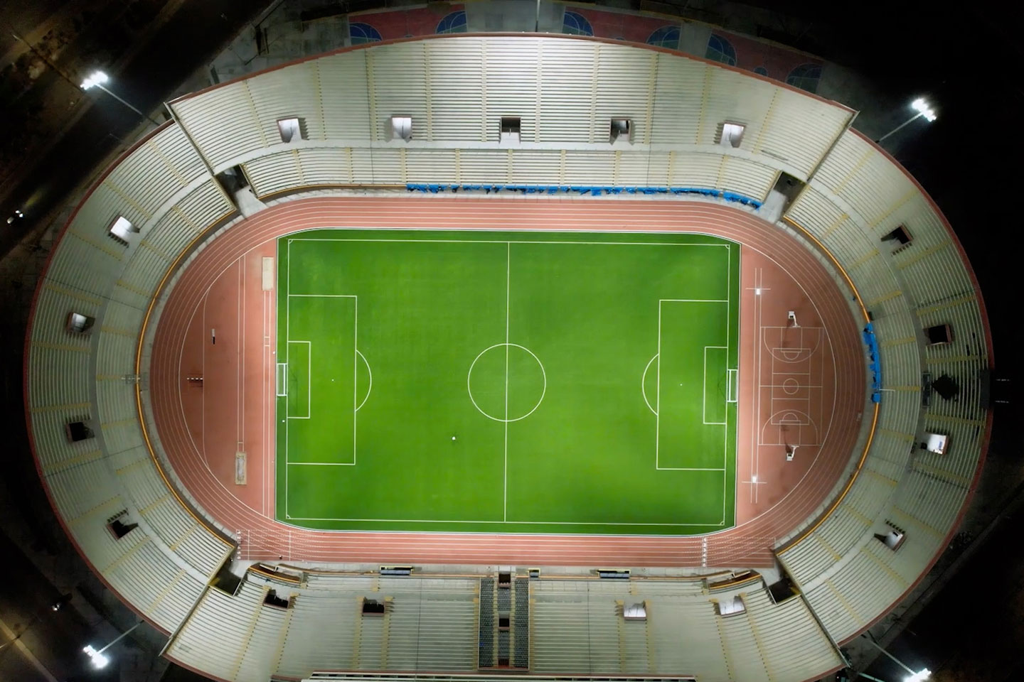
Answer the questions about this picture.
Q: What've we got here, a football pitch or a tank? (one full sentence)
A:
The one in the frame is a football pitch.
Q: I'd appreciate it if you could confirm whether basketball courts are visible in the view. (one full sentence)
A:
Yes, a basketball court is visible in the scene.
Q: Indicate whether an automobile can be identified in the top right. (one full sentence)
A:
No, no automobile is visible in the top right.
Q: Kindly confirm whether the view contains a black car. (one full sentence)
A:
Yes, there's a black car down there.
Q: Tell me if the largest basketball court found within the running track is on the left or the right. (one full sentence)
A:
The largest basketball court found within the running track appears in the right half of the scene.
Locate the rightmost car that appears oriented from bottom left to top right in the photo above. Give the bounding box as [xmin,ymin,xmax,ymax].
[51,595,70,611]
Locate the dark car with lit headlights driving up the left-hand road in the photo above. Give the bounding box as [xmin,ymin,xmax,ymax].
[2,208,21,225]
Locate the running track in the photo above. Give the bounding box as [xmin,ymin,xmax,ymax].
[149,199,867,568]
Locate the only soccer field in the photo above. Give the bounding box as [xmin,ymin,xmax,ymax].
[275,232,740,534]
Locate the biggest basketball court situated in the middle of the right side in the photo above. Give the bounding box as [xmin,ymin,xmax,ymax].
[759,327,823,446]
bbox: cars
[2,208,21,225]
[51,595,70,611]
